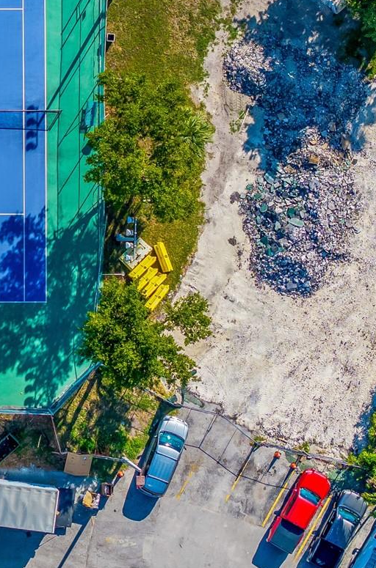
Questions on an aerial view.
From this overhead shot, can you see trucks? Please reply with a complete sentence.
Yes, you can see a truck in this photo.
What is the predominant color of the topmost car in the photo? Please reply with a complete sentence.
The topmost car looks blue in the image.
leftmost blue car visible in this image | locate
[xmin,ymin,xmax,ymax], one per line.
[136,412,189,500]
